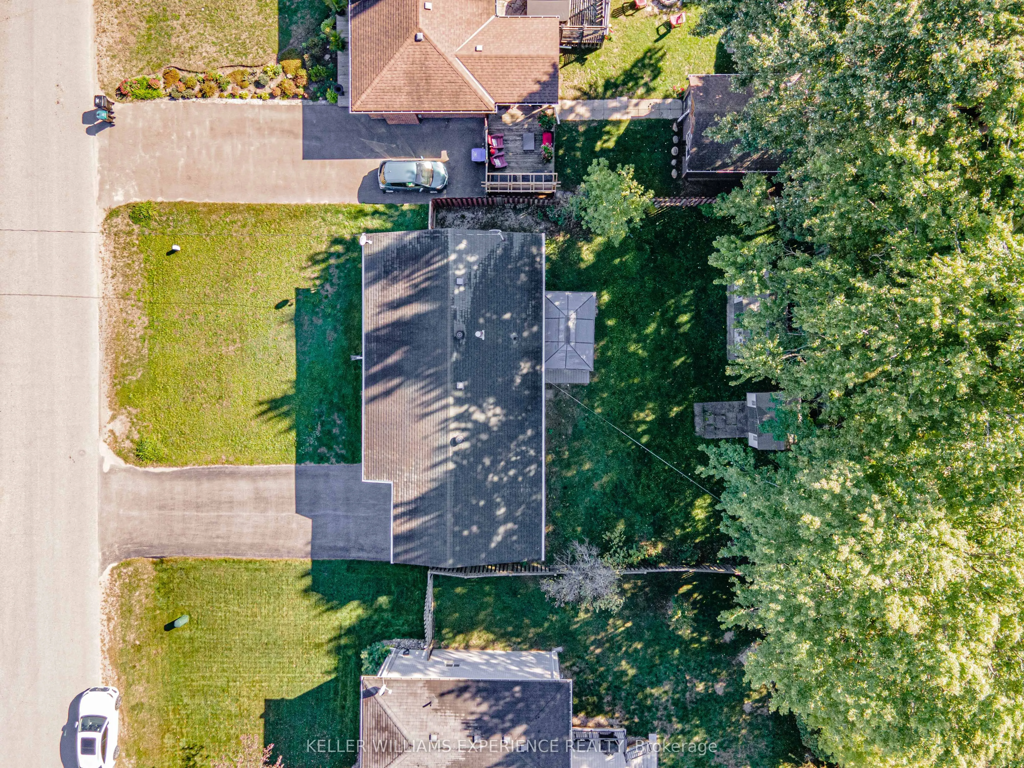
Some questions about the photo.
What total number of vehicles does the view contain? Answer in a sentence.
The number of vehicles here is 2.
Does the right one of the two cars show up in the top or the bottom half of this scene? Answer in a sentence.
Seen from above, the right one of the two cars lies in the top half of the view.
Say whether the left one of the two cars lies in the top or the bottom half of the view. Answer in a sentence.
The left one of the two cars is in the bottom half of the image.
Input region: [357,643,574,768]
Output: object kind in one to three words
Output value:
house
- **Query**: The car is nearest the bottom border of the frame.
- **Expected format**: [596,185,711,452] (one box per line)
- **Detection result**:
[75,685,119,766]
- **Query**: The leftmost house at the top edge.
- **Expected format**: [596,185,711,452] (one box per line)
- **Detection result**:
[348,0,572,130]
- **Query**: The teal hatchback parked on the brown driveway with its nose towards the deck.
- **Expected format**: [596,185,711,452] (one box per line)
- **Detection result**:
[379,157,448,193]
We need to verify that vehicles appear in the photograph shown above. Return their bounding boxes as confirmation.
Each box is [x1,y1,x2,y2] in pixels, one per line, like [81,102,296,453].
[379,157,448,193]
[75,685,119,766]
